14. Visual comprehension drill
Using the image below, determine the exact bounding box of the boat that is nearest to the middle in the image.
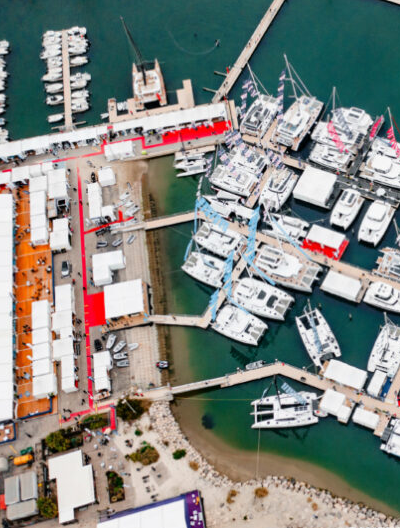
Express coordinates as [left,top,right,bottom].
[183,238,229,289]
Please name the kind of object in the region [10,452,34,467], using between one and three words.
vehicle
